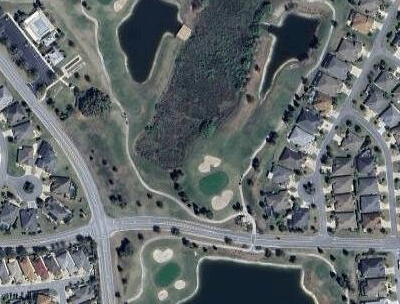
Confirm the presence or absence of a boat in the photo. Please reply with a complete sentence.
No, no boat can be seen from above.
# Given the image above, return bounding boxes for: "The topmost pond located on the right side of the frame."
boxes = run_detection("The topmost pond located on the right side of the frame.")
[262,15,318,95]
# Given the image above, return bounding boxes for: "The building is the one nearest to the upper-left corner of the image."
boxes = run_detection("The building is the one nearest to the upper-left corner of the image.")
[22,10,56,43]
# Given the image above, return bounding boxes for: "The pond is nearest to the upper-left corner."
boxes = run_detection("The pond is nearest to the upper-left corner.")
[121,0,180,81]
